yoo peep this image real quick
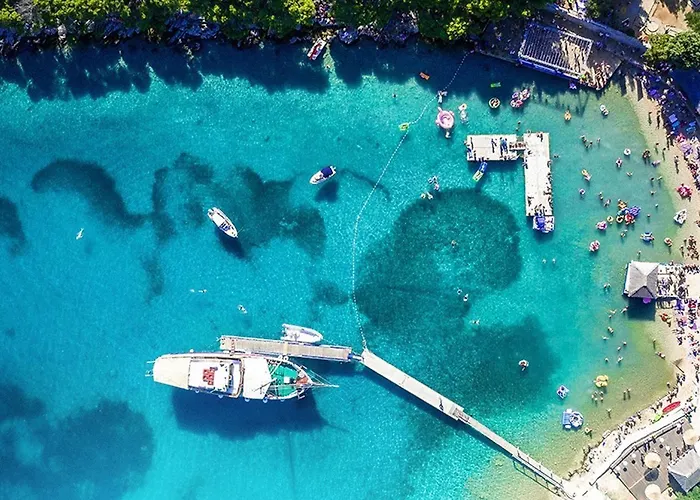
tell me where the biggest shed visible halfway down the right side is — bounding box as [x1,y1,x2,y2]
[624,261,659,299]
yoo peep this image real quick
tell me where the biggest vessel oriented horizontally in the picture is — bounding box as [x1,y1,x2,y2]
[146,350,338,404]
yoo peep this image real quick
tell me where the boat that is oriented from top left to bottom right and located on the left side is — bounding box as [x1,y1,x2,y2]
[206,207,245,237]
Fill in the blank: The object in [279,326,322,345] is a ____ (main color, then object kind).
white boat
